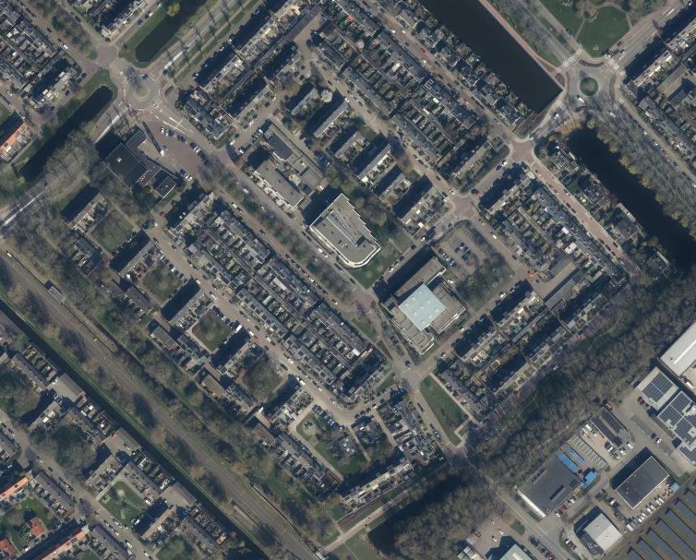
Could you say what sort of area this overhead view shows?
residential area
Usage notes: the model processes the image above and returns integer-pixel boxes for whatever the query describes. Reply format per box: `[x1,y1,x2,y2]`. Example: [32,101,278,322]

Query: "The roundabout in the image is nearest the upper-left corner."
[120,70,162,112]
